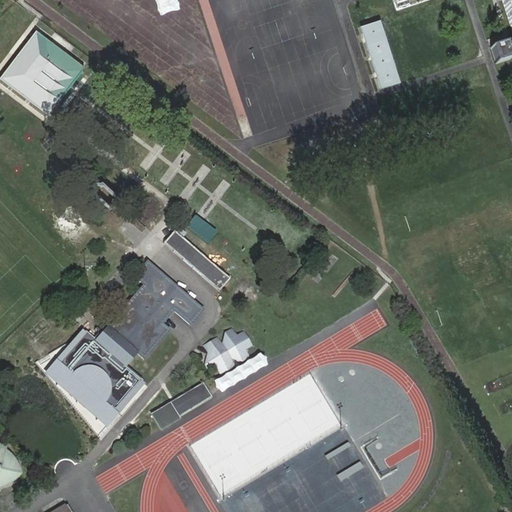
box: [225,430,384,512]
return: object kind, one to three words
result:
basketball court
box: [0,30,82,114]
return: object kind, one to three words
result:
building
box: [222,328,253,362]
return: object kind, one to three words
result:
house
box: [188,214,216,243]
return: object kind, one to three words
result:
shed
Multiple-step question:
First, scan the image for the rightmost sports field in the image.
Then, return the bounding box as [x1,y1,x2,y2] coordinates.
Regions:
[388,158,512,362]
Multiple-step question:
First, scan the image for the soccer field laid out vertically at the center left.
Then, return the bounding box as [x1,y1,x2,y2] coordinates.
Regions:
[0,200,66,337]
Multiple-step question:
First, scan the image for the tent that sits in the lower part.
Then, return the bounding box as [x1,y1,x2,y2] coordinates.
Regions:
[215,356,264,394]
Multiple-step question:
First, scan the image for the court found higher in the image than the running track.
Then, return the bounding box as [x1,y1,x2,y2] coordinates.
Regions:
[212,0,364,136]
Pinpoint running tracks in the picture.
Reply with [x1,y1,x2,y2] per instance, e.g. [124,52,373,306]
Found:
[97,308,438,512]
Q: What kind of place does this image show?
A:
sports ground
